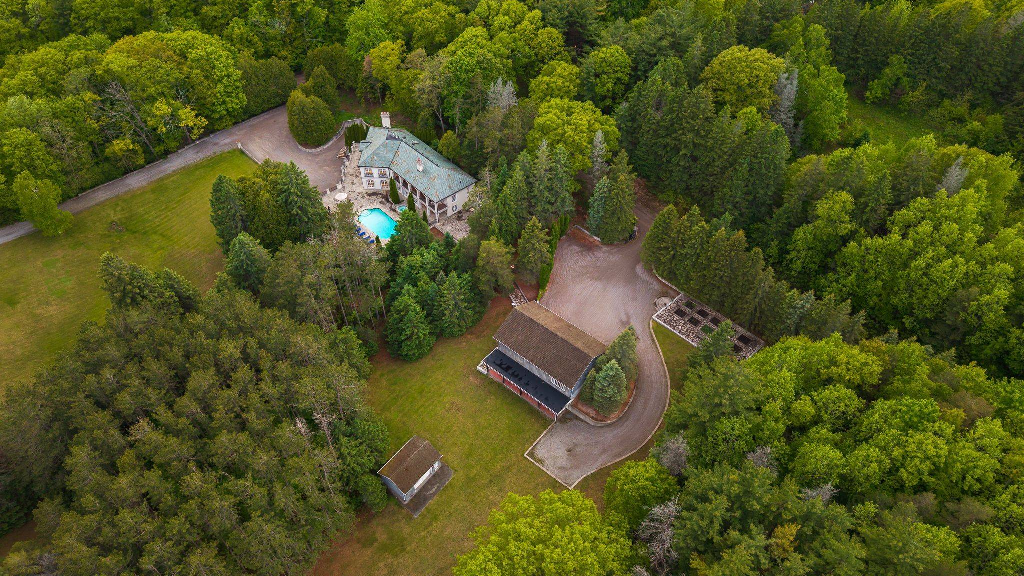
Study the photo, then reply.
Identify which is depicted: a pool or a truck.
pool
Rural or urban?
rural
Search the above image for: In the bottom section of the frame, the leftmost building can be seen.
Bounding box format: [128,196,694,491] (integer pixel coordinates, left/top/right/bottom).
[377,436,443,502]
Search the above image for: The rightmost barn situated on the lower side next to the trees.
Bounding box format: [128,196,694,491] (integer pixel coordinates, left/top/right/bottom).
[480,302,611,422]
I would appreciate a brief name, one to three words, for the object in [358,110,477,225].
house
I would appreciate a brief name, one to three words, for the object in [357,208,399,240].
swimming pool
